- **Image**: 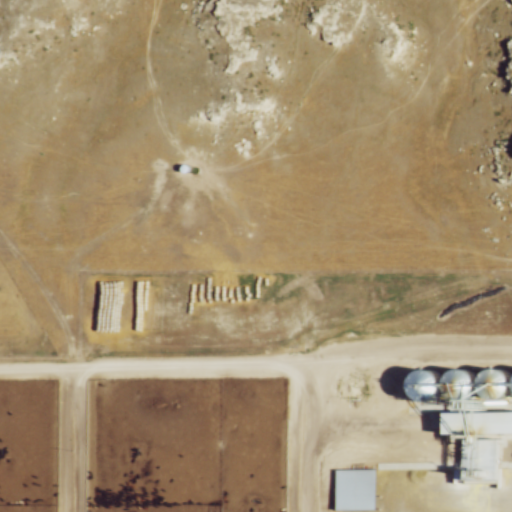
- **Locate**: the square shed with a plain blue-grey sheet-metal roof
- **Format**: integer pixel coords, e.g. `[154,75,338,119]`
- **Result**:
[336,470,376,511]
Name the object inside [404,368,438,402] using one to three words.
silo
